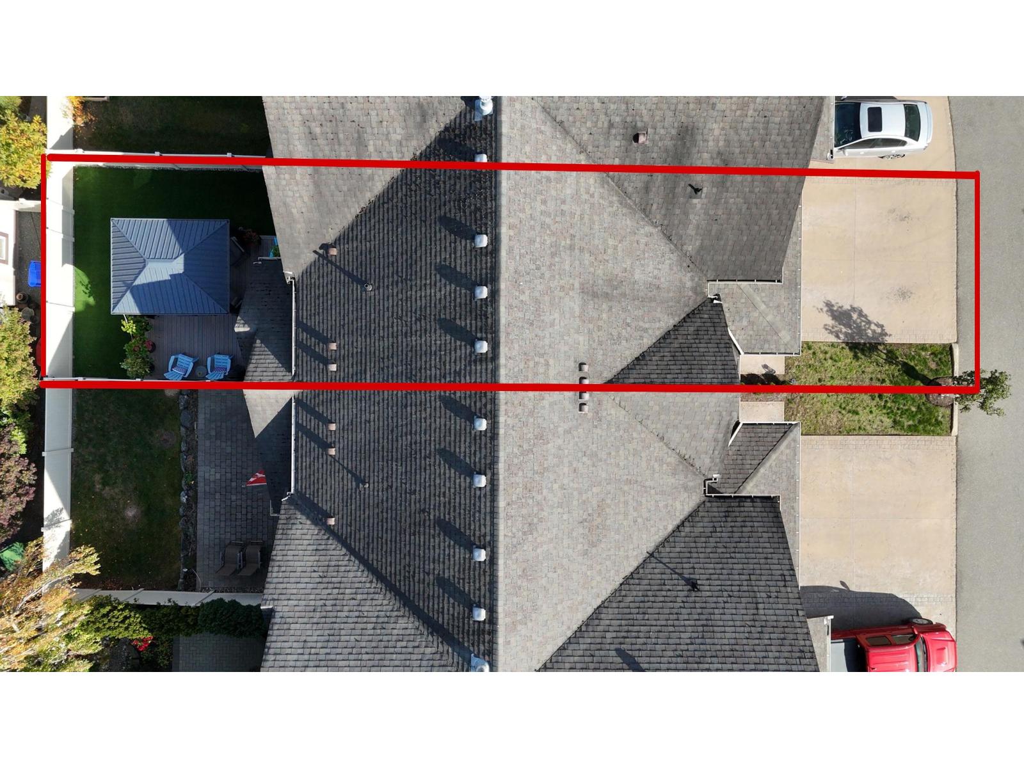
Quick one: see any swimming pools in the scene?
No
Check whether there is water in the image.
No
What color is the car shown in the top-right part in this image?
white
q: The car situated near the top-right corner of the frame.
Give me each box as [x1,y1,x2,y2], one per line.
[835,95,935,156]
